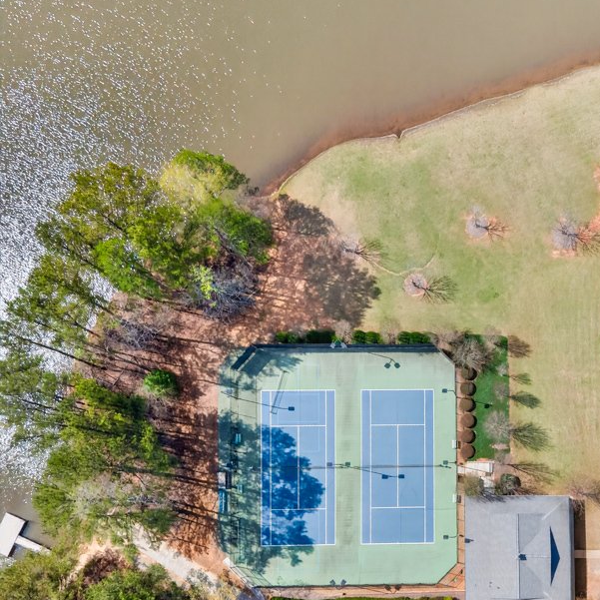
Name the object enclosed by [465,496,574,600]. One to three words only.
building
